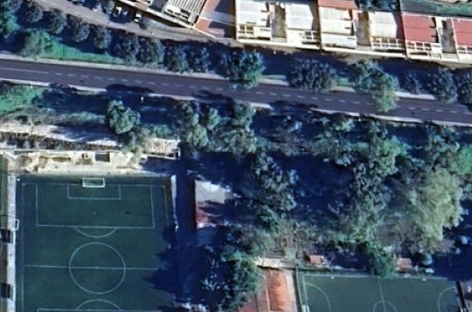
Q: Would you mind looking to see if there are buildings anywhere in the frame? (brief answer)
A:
Yes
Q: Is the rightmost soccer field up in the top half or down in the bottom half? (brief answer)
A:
bottom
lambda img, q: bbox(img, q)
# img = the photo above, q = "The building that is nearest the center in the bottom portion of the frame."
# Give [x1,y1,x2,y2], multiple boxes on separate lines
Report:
[193,180,228,212]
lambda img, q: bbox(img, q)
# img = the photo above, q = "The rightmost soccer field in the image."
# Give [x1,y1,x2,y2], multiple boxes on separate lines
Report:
[17,175,179,312]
